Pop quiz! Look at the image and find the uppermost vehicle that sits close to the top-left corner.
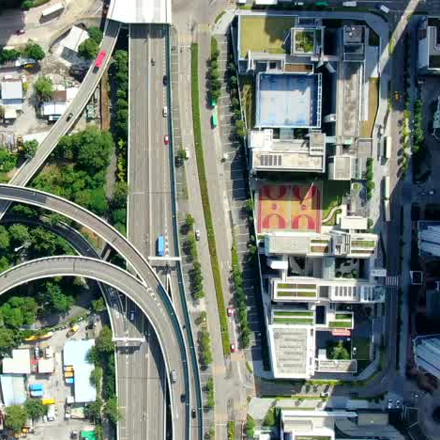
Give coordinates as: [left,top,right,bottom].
[42,2,63,18]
